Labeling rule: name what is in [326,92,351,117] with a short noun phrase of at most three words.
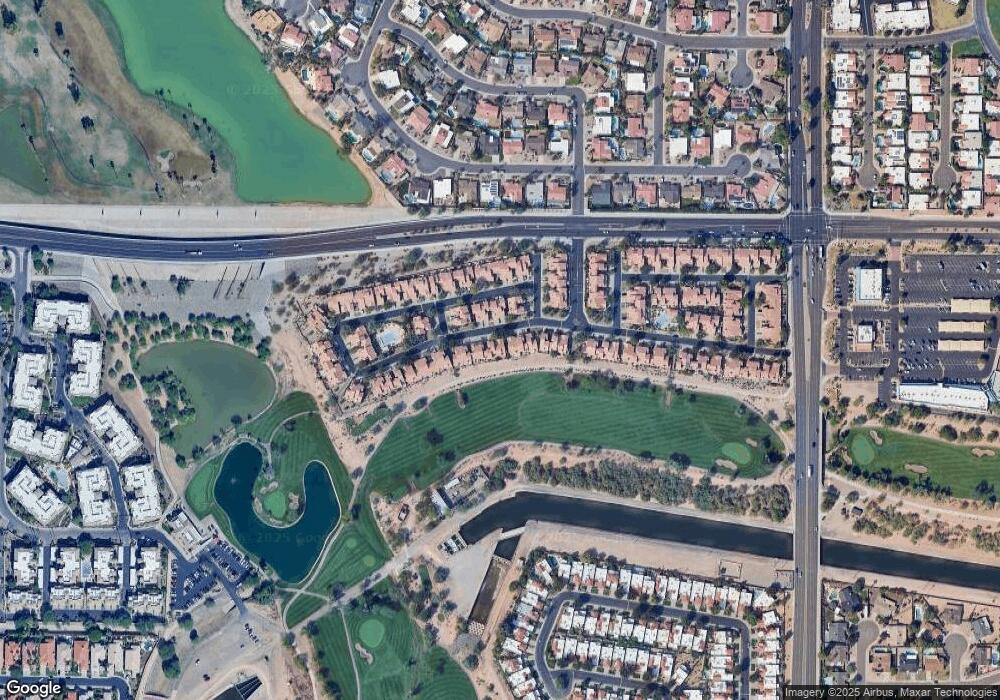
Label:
house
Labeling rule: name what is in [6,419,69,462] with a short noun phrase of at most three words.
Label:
building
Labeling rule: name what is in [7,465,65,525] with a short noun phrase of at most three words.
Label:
building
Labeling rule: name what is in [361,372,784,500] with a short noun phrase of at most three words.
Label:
golf course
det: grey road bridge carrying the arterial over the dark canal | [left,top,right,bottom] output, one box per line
[793,528,820,572]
